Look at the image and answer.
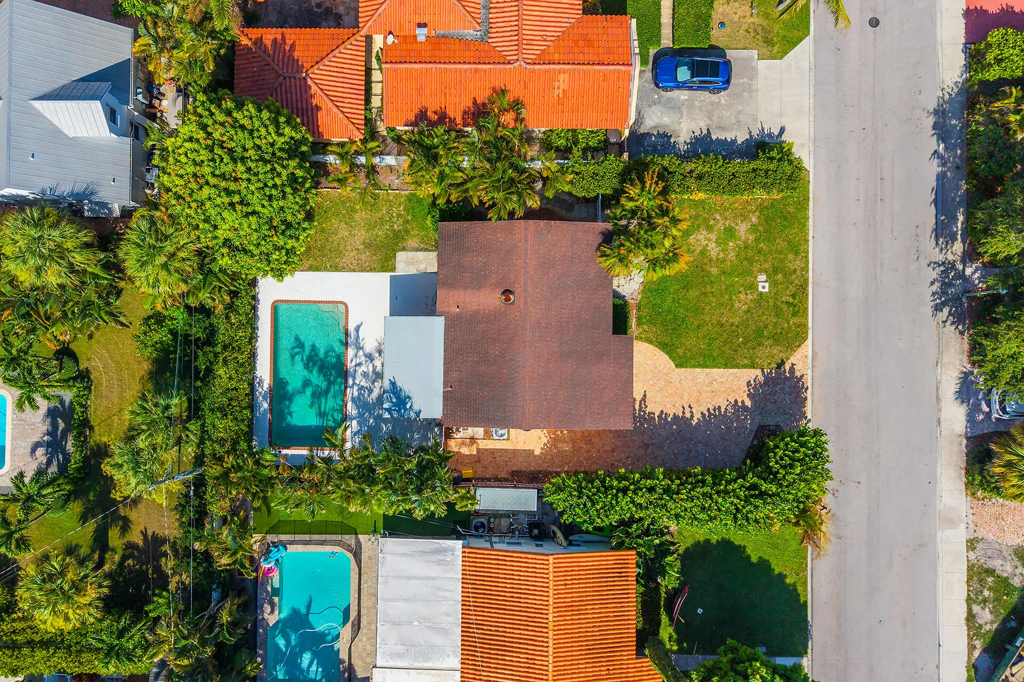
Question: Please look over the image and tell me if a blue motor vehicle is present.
Yes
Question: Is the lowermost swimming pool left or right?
left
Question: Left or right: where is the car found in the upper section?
right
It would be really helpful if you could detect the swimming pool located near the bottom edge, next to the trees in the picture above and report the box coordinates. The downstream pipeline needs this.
[265,550,352,682]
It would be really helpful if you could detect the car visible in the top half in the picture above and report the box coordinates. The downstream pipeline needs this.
[654,50,735,92]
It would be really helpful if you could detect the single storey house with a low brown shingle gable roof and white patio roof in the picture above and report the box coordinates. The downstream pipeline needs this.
[382,218,633,432]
